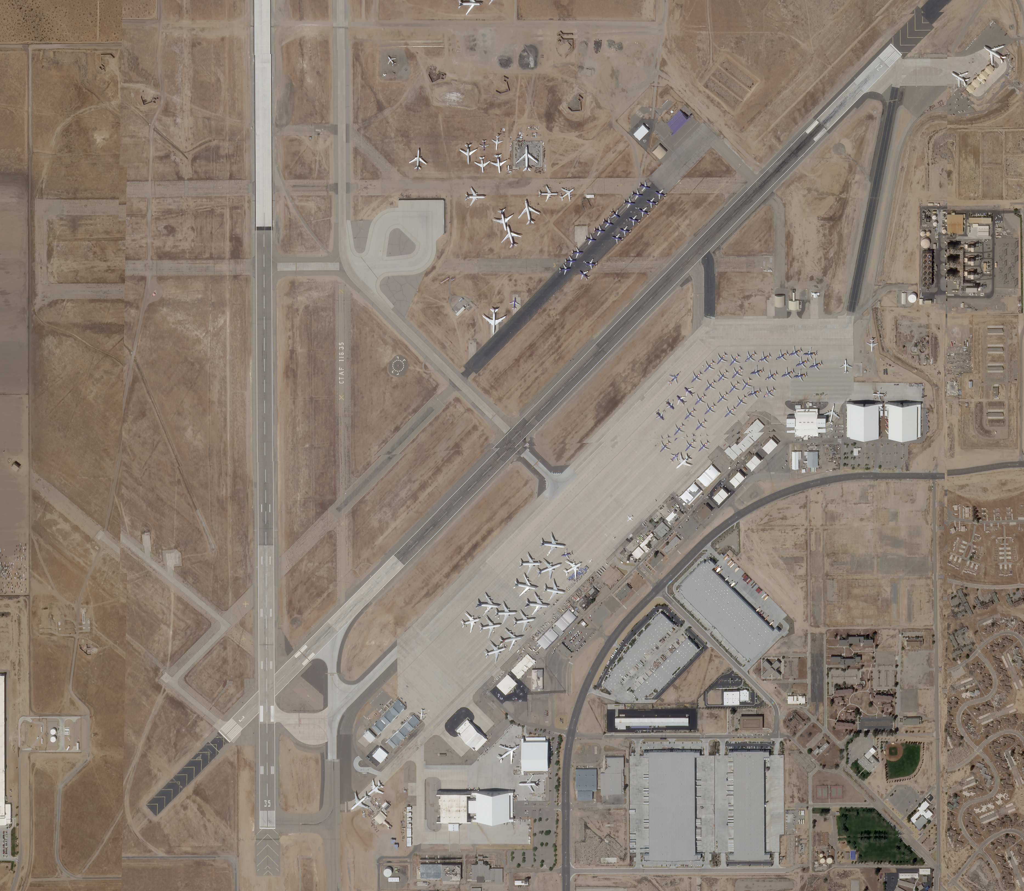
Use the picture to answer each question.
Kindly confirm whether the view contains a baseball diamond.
Yes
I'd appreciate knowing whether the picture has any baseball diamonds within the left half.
No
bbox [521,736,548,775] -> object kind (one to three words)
hangar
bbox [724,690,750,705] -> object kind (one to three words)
building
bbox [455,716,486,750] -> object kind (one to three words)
hangar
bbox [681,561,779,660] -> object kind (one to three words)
building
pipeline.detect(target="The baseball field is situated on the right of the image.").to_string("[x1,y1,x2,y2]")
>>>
[883,742,921,779]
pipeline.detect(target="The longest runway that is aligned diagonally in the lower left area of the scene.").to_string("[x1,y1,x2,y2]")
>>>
[221,620,338,740]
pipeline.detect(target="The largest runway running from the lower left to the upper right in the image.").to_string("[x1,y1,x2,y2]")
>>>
[255,45,900,705]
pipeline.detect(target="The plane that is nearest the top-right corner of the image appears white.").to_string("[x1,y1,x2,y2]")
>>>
[984,46,1007,64]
